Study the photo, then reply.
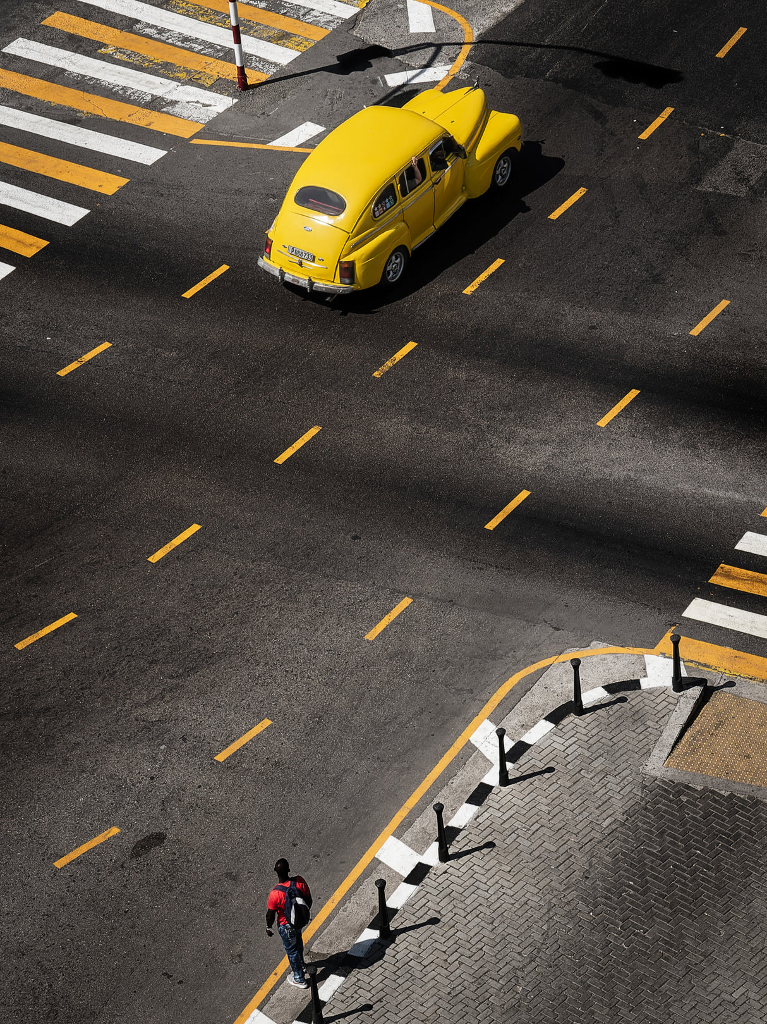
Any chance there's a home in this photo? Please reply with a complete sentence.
No, the frame has no home in it.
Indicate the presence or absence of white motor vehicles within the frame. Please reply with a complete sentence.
No, no white motor vehicle is visible in the scene.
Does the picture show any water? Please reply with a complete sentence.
No, there's no water in this view.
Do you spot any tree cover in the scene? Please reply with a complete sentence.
No, there is no tree cover in the image.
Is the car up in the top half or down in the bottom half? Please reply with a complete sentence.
You can find the car in the top half.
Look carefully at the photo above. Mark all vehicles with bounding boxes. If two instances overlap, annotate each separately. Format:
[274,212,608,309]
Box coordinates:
[255,75,529,306]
